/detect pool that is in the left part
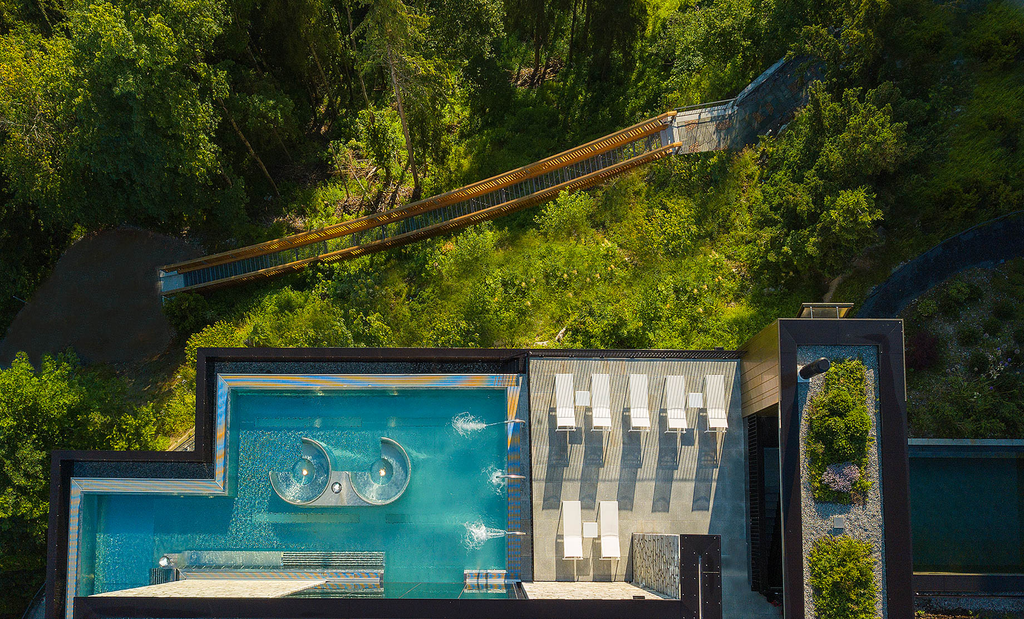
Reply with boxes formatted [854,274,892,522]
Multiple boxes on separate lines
[63,373,521,619]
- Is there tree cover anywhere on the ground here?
Yes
